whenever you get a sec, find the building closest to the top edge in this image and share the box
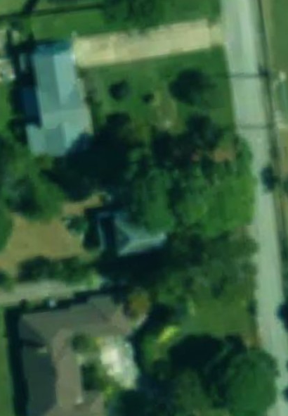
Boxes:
[20,39,87,155]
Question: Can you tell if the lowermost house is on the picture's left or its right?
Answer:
left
